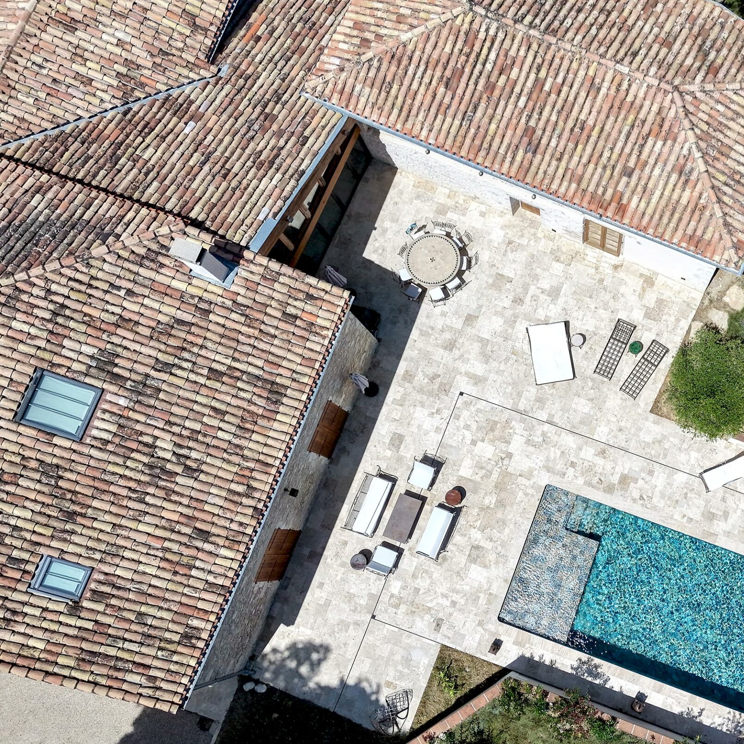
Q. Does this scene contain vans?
No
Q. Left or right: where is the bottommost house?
left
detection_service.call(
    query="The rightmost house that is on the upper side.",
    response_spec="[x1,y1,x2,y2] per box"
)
[300,0,744,297]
